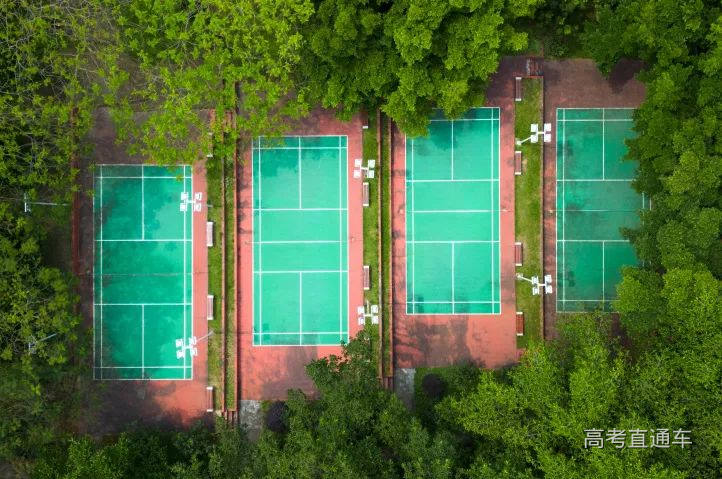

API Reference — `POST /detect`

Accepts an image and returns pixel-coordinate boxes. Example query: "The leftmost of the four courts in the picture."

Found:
[80,109,207,435]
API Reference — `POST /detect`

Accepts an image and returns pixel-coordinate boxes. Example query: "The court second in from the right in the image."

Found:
[392,56,527,368]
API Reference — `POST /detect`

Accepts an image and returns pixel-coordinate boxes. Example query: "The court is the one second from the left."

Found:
[238,109,362,400]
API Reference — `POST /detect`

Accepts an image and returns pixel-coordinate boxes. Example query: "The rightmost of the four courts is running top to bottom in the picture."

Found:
[544,58,673,346]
